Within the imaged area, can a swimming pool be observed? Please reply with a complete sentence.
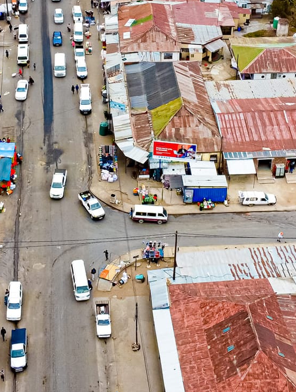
No, there appears to be no swimming pool in this shot.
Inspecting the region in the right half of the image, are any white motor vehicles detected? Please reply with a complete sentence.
Yes, a white motor vehicle is visible in the right half of the image.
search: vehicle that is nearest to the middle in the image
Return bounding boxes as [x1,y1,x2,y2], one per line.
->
[129,203,169,224]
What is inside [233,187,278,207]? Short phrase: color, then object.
white vehicle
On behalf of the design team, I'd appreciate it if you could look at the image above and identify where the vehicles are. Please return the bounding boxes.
[17,47,29,64]
[51,31,64,46]
[5,282,24,319]
[129,203,169,224]
[14,80,29,99]
[7,330,28,372]
[18,0,28,10]
[53,52,66,75]
[94,303,113,339]
[73,20,85,42]
[233,187,278,207]
[78,79,93,110]
[74,43,87,62]
[17,26,29,42]
[53,9,65,24]
[71,5,84,22]
[70,258,92,299]
[75,59,89,79]
[49,170,67,200]
[79,191,104,220]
